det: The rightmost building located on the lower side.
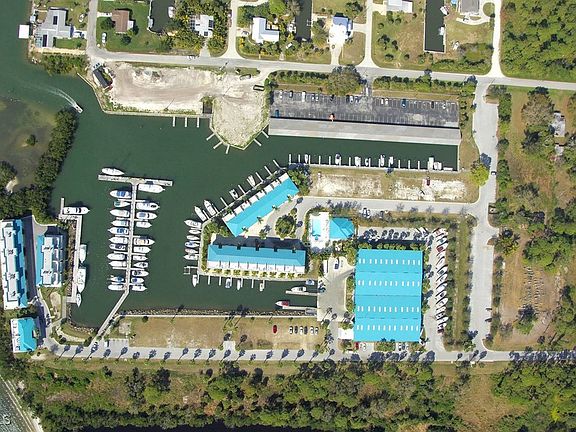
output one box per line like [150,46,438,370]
[354,249,422,342]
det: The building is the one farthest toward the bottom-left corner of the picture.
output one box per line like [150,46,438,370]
[11,318,37,353]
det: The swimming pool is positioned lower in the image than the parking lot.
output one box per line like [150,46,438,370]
[310,212,330,247]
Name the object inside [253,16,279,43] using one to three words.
house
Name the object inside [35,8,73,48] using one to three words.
house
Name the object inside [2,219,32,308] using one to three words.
building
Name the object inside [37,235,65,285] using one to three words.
building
